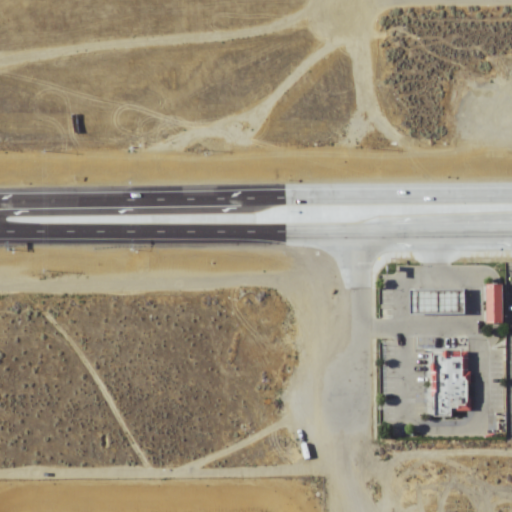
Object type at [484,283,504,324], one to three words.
building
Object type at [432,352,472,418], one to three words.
building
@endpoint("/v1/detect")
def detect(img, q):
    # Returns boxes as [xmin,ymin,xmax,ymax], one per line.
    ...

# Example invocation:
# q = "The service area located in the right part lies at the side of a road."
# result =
[374,264,506,435]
